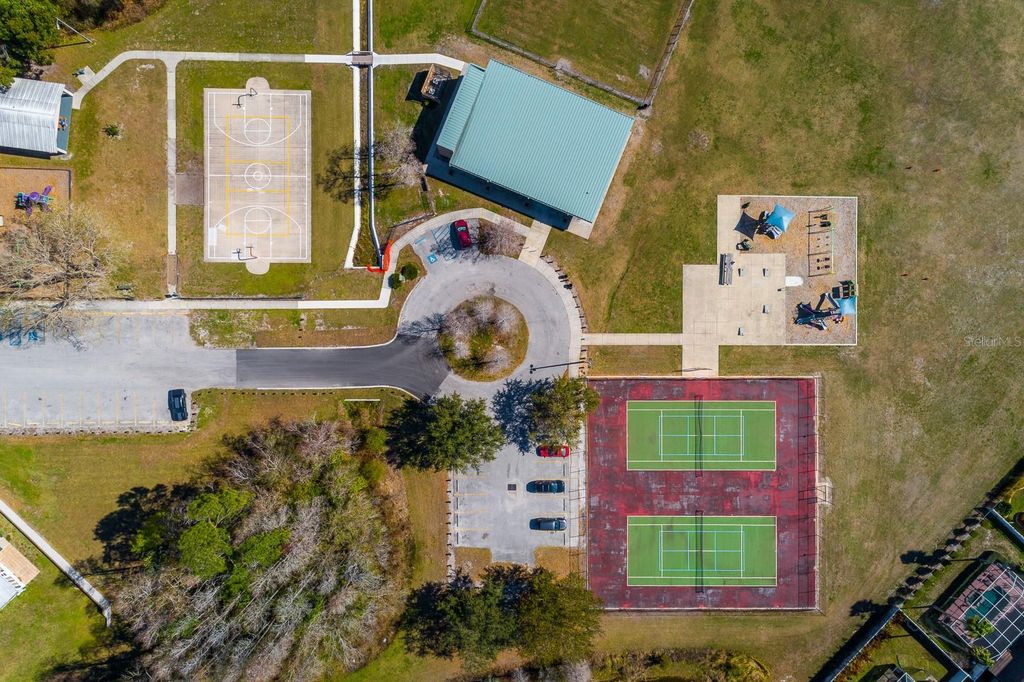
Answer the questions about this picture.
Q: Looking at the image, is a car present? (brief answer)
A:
Yes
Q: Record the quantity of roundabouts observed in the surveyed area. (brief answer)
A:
1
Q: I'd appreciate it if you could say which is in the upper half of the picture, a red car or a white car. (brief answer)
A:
red car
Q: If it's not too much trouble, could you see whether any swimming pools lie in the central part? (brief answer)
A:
No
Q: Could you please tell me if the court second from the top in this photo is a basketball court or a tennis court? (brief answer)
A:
tennis court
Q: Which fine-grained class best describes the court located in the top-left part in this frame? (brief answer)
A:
basketball court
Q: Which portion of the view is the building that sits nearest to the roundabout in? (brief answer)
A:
top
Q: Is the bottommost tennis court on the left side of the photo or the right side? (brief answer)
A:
right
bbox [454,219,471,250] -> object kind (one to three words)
car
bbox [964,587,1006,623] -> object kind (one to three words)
swimming pool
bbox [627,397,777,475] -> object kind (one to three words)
tennis court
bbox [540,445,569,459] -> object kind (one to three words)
car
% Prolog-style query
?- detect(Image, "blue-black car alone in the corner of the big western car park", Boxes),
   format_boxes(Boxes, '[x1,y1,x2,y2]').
[171,389,189,421]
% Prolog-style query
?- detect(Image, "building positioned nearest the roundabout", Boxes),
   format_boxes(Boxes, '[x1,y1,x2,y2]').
[437,60,636,224]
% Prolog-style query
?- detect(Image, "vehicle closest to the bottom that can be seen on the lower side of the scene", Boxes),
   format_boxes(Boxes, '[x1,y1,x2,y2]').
[534,518,565,533]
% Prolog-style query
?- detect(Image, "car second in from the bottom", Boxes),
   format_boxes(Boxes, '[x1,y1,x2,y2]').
[533,480,564,495]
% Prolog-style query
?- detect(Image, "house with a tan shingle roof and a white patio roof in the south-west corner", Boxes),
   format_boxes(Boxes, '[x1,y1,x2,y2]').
[0,537,40,610]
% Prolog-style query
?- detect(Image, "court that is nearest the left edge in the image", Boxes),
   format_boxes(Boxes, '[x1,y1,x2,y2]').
[204,77,311,274]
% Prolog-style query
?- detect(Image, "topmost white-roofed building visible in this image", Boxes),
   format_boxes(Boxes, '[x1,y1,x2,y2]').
[0,78,74,155]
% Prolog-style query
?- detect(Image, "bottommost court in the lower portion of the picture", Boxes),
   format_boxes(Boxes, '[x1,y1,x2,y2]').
[627,512,777,591]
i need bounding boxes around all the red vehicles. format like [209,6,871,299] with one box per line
[454,219,471,250]
[540,445,569,459]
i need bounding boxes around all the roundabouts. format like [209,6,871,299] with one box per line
[394,251,571,426]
